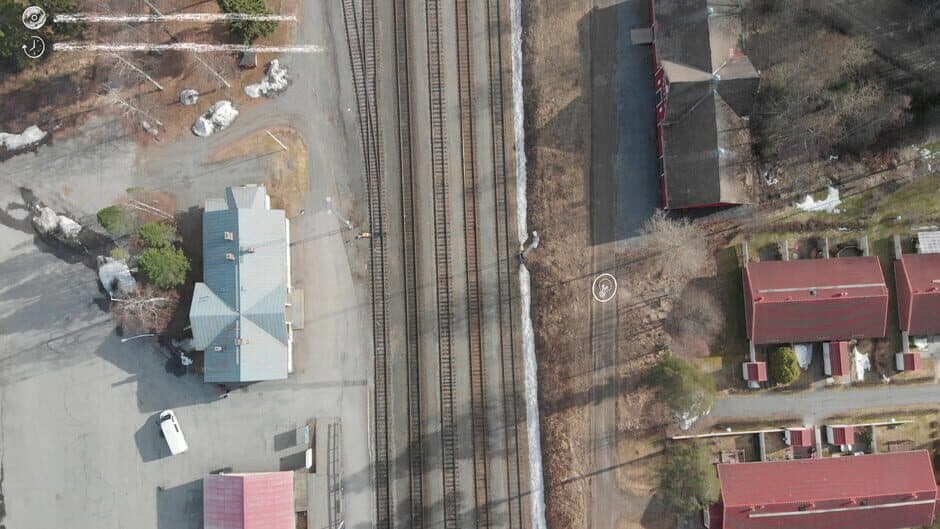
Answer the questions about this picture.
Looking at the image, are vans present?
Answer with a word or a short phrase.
Yes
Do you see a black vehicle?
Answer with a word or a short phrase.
No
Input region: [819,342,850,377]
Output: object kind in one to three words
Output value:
shed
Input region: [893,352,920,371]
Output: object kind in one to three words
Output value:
shed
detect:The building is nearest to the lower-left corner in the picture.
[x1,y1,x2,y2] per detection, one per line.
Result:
[201,470,297,529]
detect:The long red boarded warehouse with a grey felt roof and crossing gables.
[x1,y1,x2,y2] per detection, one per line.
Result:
[632,0,758,212]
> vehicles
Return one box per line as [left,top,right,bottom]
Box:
[158,405,187,453]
